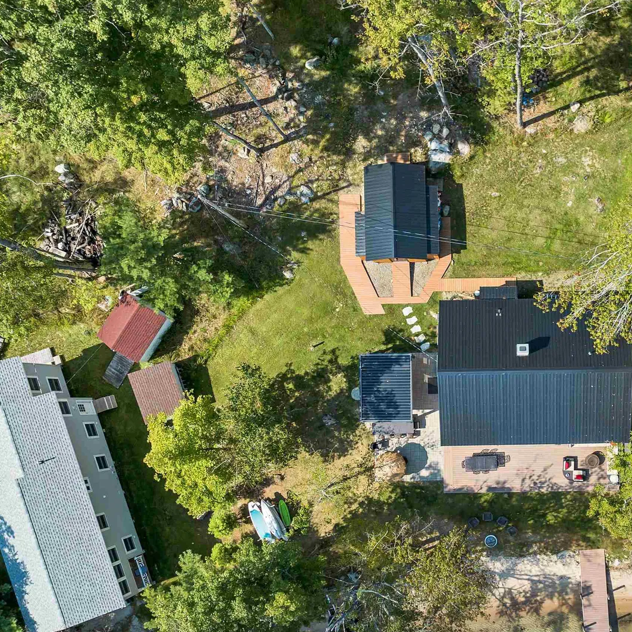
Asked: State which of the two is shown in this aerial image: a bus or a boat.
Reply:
boat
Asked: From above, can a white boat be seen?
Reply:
Yes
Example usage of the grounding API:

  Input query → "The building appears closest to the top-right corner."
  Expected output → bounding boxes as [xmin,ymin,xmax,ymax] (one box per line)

[356,161,439,264]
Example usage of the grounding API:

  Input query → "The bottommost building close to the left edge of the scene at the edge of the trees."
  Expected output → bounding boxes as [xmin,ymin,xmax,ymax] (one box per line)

[0,354,154,632]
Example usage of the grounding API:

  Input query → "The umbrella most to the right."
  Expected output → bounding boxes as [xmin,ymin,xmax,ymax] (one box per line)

[370,446,411,486]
